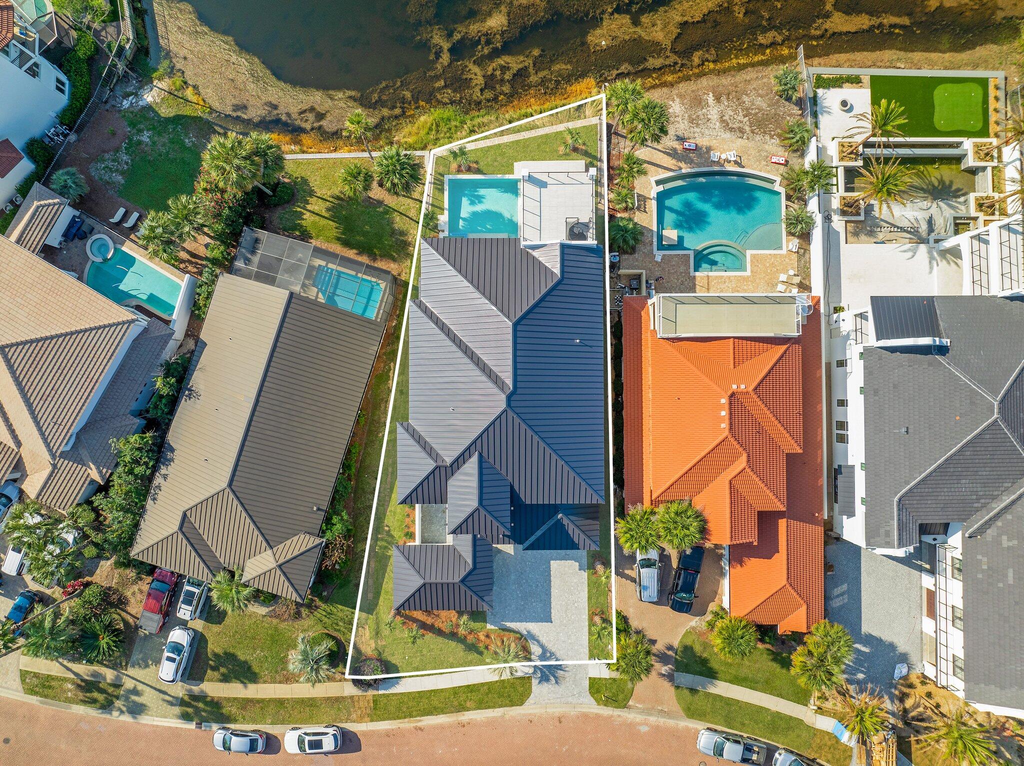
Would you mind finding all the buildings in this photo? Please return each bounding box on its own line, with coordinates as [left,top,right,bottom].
[623,294,825,634]
[129,272,388,604]
[829,211,1024,713]
[0,0,68,202]
[393,167,605,612]
[0,181,186,513]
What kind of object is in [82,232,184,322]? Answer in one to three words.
swimming pool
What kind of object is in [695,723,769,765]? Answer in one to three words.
truck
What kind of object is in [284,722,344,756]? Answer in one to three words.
car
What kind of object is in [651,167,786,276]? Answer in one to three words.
swimming pool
